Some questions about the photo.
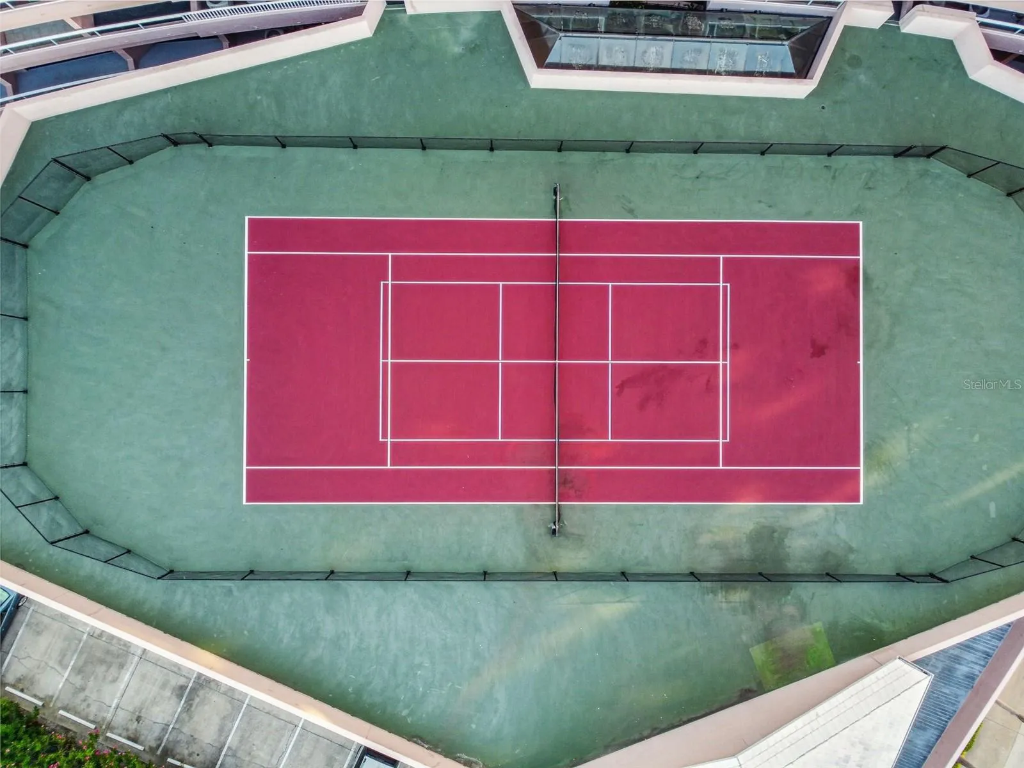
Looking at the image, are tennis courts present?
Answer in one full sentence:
Yes, this view includes a tennis court.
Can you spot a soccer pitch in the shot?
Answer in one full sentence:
No, there appears to be no soccer pitch in this shot.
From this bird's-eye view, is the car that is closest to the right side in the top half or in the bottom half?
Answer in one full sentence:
Seen from above, the car that is closest to the right side lies in the bottom half of the view.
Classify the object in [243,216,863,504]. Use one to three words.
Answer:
tennis court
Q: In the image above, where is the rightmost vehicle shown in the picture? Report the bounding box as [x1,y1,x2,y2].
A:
[353,748,400,768]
